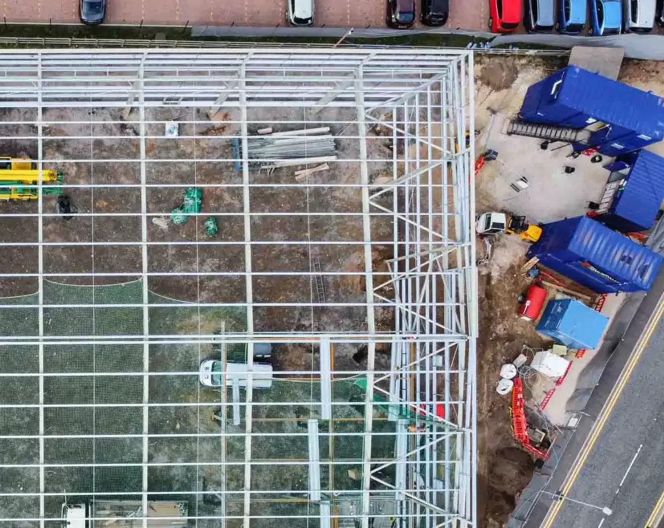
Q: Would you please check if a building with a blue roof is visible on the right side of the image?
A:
Yes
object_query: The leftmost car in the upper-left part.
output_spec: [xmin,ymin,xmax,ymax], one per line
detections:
[80,0,105,25]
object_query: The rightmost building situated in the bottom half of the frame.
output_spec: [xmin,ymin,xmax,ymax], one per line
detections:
[536,300,610,349]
